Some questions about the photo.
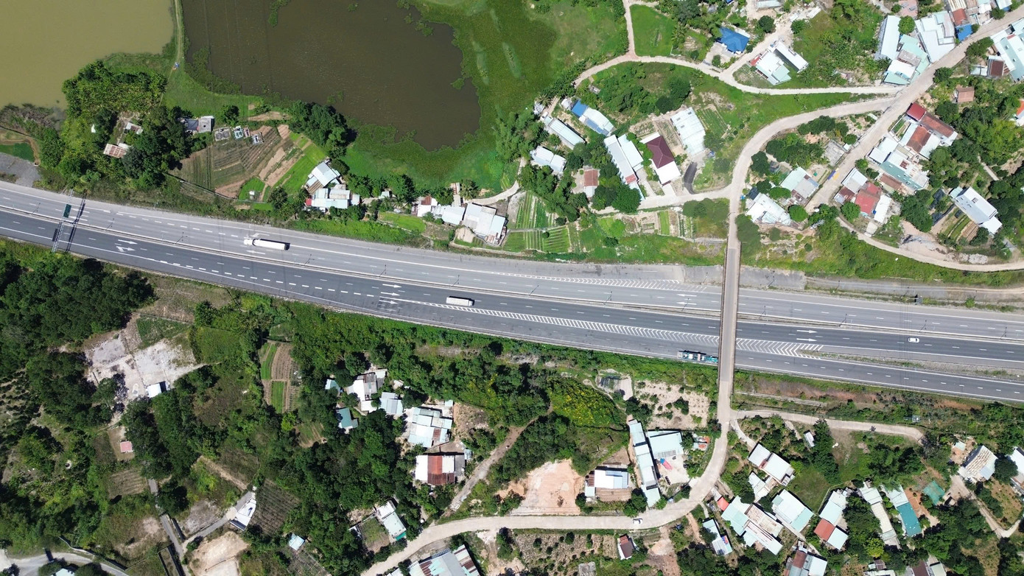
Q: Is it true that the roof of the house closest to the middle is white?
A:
Yes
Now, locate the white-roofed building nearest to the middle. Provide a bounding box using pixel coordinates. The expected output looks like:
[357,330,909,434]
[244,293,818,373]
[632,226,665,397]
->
[463,203,506,246]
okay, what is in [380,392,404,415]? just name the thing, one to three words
house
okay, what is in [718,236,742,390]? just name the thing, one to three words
bridge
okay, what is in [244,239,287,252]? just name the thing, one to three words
vehicle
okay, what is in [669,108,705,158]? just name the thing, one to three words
building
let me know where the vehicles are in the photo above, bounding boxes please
[659,458,673,471]
[678,352,718,363]
[632,518,643,524]
[244,239,287,252]
[446,297,473,308]
[907,337,919,343]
